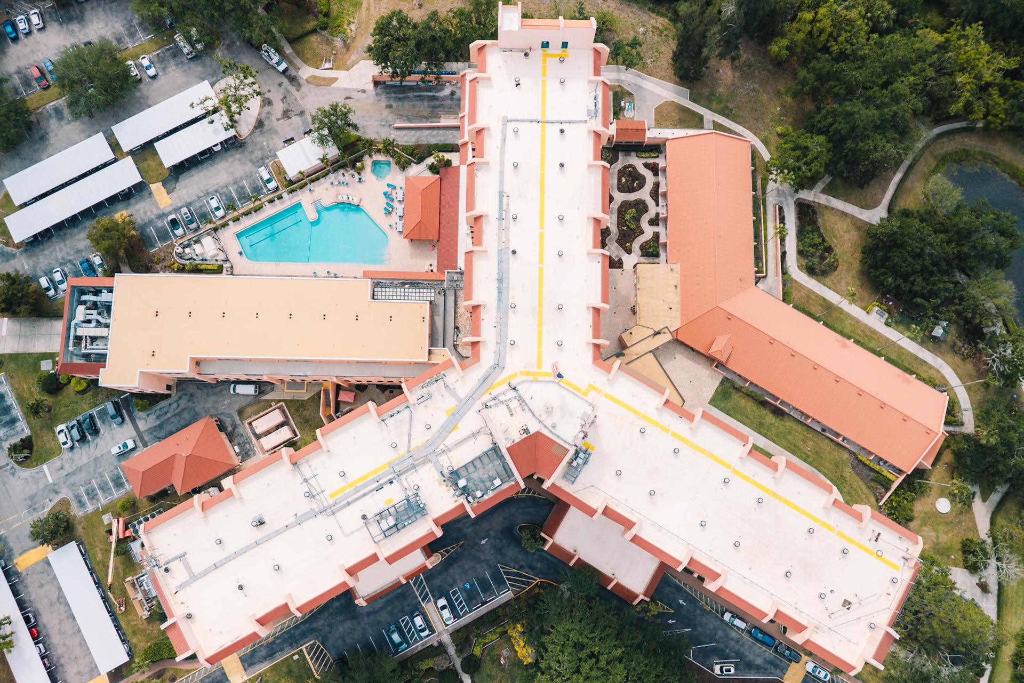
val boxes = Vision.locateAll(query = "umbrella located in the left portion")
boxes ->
[338,391,355,403]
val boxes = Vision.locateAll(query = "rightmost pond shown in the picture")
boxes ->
[940,164,1024,329]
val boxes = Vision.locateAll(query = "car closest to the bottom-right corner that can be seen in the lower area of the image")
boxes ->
[802,658,832,683]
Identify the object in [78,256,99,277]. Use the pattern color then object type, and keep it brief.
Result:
blue car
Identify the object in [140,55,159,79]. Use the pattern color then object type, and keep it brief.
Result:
white car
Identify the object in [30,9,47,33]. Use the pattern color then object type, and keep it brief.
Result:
white car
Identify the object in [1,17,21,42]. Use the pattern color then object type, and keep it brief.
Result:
blue car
